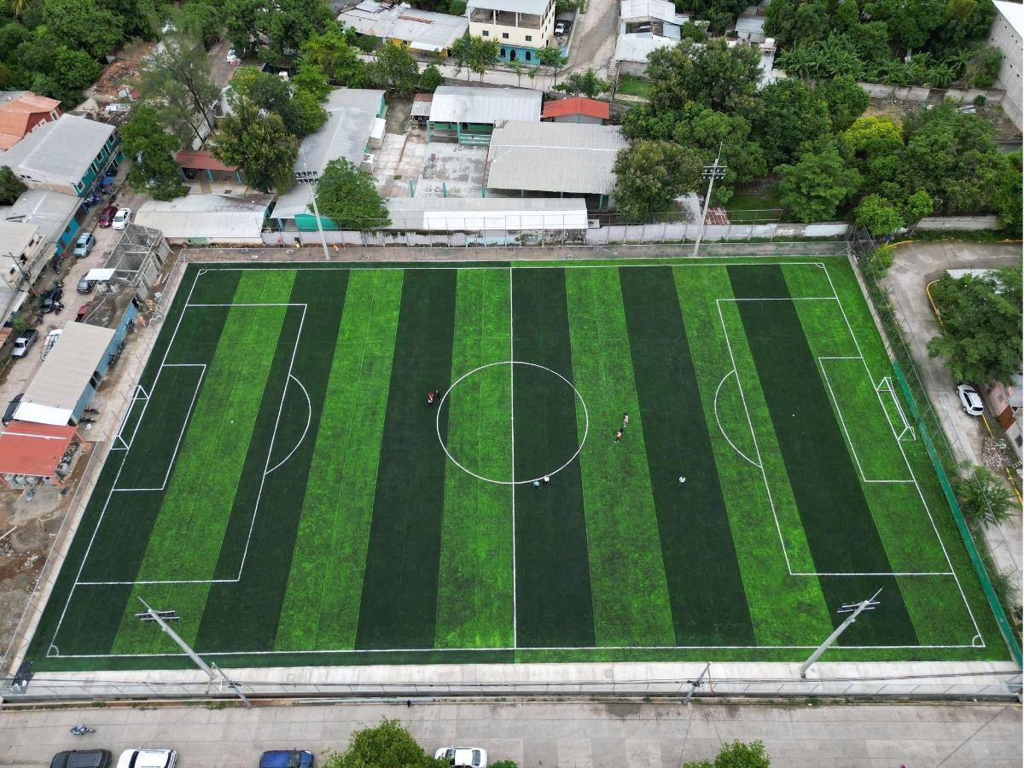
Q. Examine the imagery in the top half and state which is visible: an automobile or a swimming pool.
automobile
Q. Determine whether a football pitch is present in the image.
Yes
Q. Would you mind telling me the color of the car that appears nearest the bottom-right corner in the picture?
white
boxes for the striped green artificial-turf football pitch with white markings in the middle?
[32,255,1011,668]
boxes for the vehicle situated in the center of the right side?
[954,386,987,417]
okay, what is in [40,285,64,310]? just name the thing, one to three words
car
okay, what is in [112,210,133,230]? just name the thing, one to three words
car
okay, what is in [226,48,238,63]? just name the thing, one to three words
vehicle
